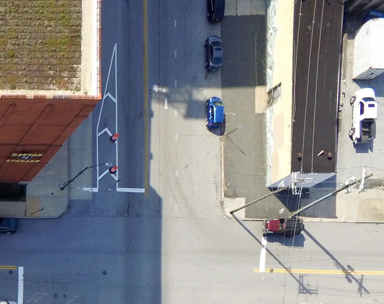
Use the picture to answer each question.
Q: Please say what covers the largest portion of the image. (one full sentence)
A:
The largest share of the image is taken up by paved ground.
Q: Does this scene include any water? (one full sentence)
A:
No, water can't be seen anywhere here.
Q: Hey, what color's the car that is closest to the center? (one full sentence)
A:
The car that is closest to the center is blue.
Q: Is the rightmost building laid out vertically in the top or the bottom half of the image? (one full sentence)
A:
You can find the rightmost building laid out vertically in the top half.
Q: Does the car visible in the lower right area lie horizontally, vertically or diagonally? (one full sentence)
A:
From this overhead view, the car visible in the lower right area appears to run horizontally.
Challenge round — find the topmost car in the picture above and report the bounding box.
[205,0,227,28]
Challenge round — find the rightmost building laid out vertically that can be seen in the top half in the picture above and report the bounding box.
[266,0,337,193]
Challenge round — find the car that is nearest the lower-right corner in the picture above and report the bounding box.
[261,215,309,236]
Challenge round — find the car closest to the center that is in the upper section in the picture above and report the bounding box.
[205,97,226,131]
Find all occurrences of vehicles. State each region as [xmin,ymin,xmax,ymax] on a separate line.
[205,0,227,28]
[0,217,19,235]
[204,35,225,72]
[205,97,226,131]
[261,215,309,236]
[351,90,378,144]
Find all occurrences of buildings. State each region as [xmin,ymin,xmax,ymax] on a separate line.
[266,0,337,193]
[0,0,102,184]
